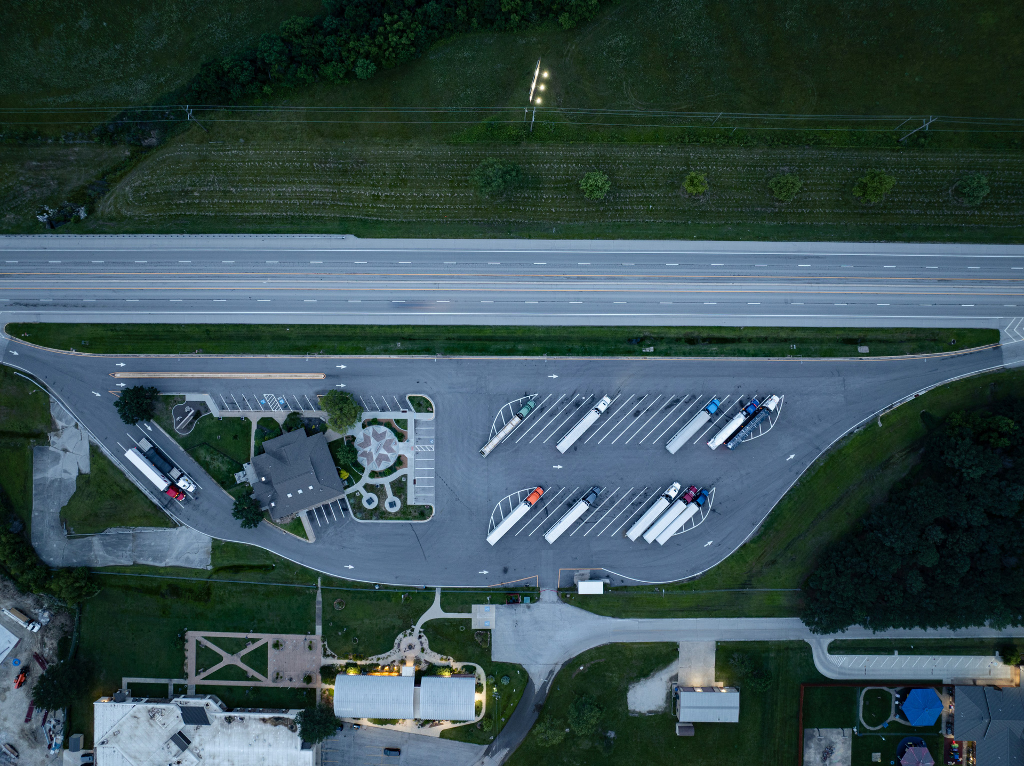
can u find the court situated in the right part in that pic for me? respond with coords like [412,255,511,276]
[803,729,852,766]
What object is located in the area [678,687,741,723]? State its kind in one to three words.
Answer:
building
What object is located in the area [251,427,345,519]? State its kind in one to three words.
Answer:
building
